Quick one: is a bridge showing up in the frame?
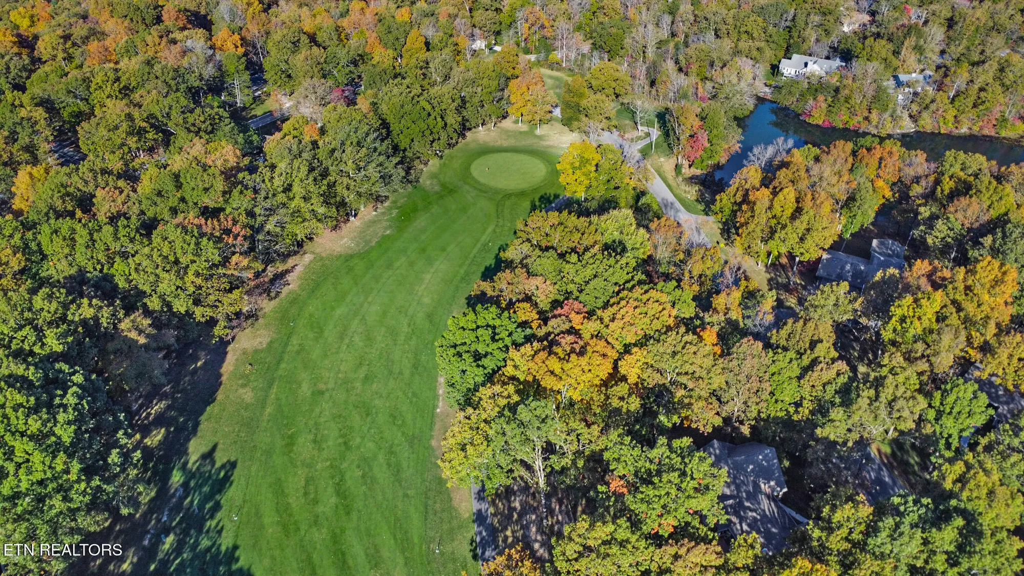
No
